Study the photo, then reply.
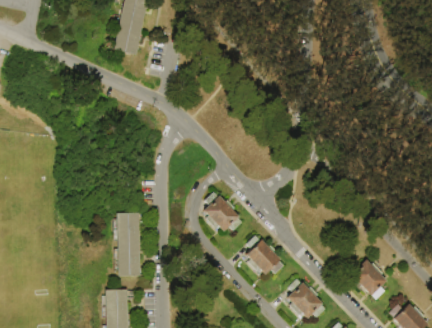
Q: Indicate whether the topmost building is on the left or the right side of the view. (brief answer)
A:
left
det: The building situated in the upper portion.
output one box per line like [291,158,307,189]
[115,0,146,54]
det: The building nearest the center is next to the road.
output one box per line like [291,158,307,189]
[204,192,240,230]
